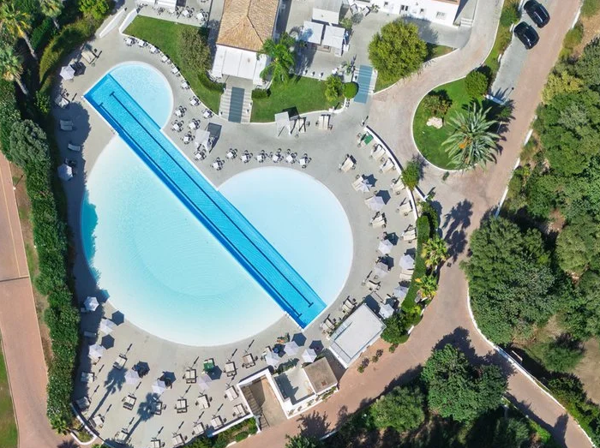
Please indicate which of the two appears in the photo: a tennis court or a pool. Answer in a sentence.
There is a pool in the scene.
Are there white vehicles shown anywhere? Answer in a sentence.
No, no white vehicle can be seen from above.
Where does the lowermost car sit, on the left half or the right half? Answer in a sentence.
The lowermost car sits on the right side.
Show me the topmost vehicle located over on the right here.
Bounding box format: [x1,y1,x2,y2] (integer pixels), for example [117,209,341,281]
[524,0,549,29]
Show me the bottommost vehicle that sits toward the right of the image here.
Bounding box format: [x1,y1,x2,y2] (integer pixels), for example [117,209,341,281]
[514,22,539,51]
